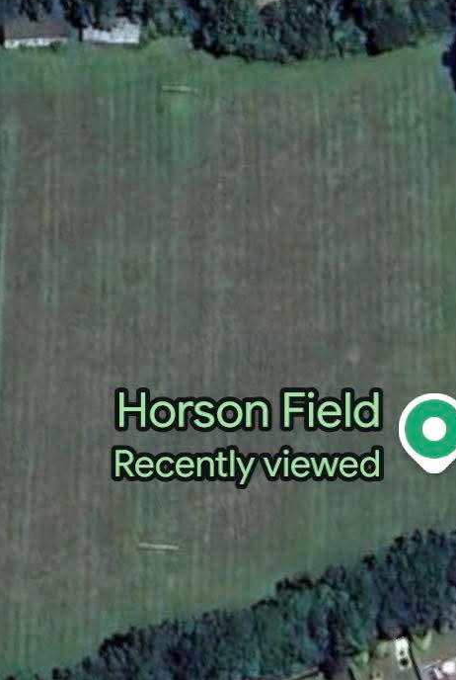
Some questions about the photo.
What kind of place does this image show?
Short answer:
sports ground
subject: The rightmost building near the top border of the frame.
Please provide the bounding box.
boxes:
[82,19,139,45]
